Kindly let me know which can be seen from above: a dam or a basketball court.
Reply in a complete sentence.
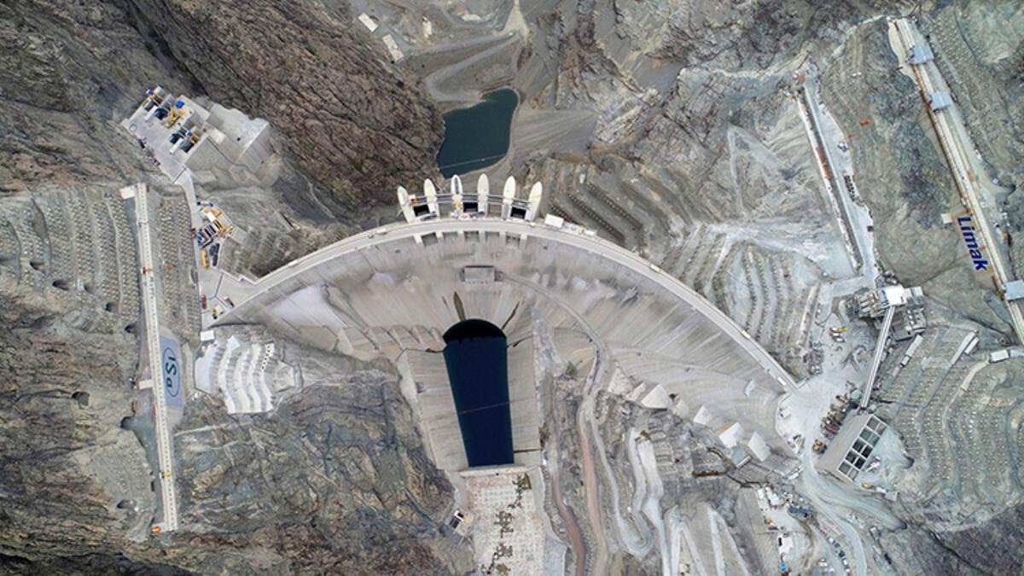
There is a dam in the scene.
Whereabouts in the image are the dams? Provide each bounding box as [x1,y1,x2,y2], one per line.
[204,174,801,468]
